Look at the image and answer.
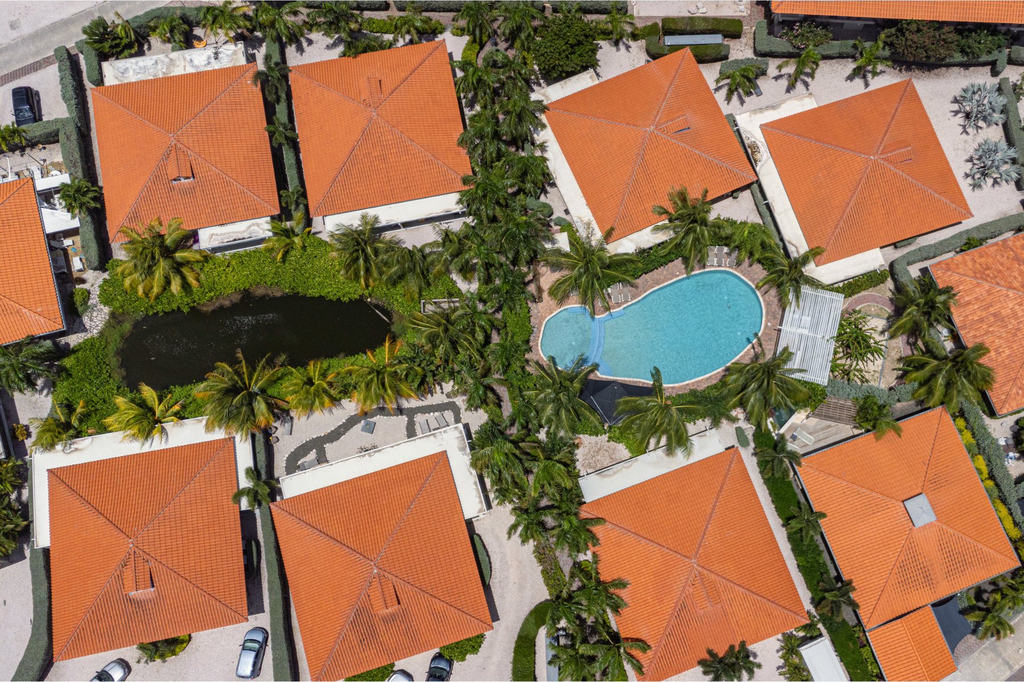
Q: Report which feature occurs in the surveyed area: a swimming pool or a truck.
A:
swimming pool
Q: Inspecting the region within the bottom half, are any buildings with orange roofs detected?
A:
Yes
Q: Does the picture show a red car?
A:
No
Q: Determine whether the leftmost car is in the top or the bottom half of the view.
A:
top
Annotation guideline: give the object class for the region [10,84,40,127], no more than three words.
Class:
car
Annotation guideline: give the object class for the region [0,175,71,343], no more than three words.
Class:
house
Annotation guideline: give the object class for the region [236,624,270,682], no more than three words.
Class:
car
